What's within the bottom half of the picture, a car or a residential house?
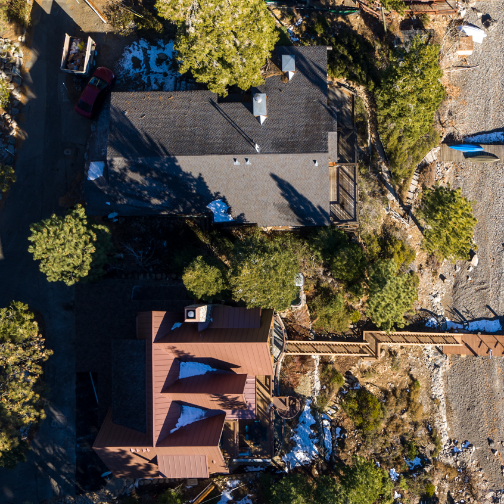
residential house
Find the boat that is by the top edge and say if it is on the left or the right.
right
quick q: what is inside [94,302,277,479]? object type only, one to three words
house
